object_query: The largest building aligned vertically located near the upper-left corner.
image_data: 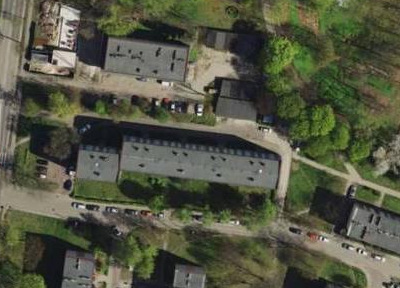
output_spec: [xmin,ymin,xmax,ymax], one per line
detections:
[59,5,81,51]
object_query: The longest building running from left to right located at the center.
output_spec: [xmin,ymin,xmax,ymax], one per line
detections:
[120,136,279,190]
